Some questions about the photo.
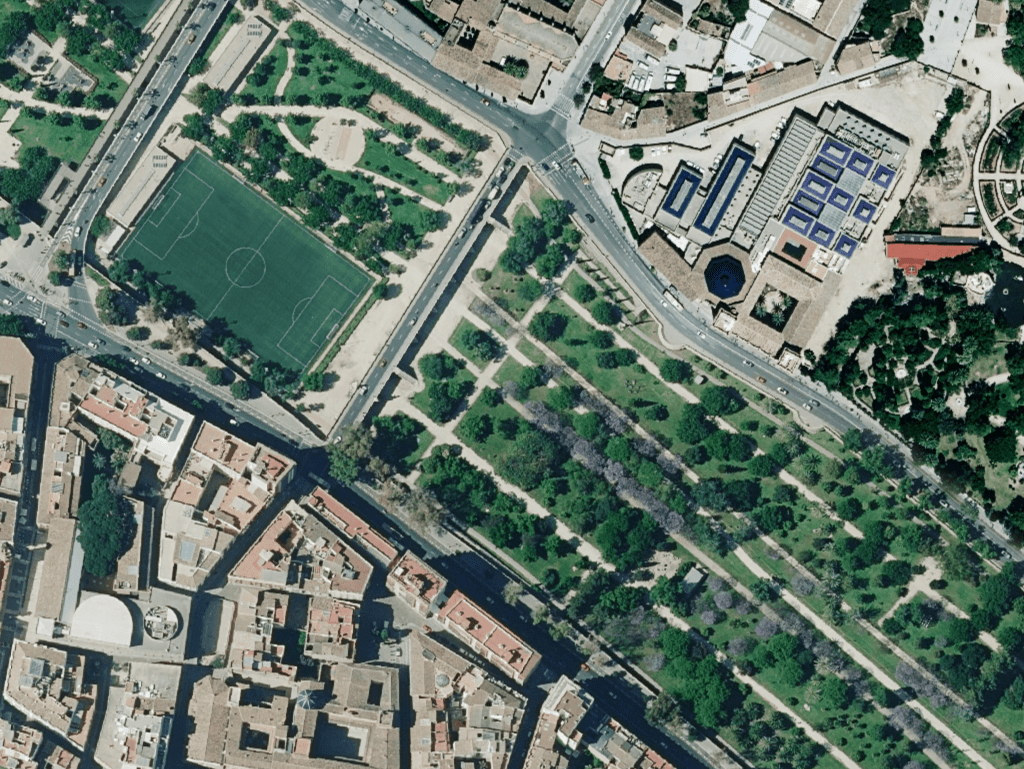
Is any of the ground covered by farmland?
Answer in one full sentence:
No, there's no farmland in this view.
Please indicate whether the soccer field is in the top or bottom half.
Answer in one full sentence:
You can find the soccer field in the top half.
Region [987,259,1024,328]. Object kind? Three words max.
pond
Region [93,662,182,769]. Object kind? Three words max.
building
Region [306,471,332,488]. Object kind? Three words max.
vehicle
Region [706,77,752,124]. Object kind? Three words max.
house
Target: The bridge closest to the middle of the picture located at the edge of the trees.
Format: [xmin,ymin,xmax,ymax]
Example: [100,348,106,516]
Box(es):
[328,145,537,440]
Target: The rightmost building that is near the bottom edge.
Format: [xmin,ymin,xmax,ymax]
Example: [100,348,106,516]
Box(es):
[584,718,674,769]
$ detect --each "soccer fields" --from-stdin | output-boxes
[102,146,378,370]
